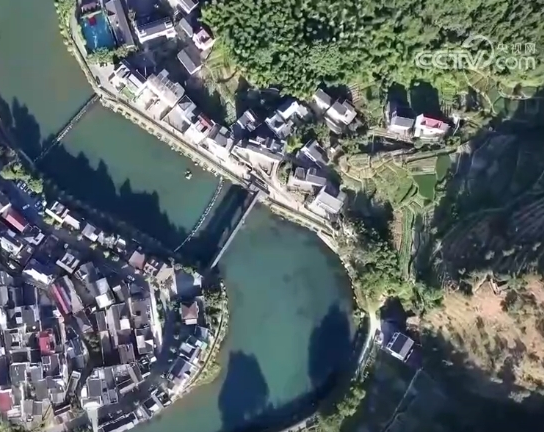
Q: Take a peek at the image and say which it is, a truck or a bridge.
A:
bridge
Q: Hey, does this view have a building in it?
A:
Yes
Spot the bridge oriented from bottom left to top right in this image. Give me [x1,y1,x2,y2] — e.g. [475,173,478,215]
[207,190,264,274]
